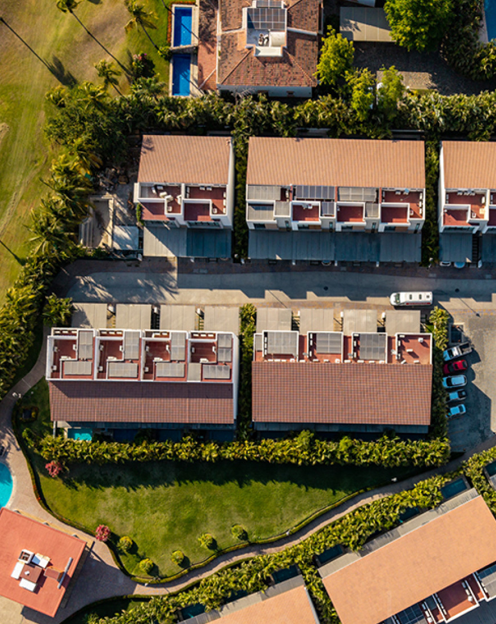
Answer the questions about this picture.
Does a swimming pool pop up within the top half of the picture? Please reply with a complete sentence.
Yes, a swimming pool shows up within the top half of the picture.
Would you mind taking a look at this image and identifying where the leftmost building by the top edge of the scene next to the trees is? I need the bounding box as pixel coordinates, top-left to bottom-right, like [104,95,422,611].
[216,0,320,102]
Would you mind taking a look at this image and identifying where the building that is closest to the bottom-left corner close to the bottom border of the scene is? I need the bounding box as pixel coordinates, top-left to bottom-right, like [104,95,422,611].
[0,507,92,616]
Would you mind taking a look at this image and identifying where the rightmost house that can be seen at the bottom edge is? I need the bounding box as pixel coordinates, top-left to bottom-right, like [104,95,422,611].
[319,488,496,624]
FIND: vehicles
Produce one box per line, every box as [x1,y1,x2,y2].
[443,342,472,358]
[448,388,471,402]
[444,403,469,418]
[392,292,432,306]
[442,375,467,387]
[440,241,451,267]
[442,359,468,374]
[453,262,464,267]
